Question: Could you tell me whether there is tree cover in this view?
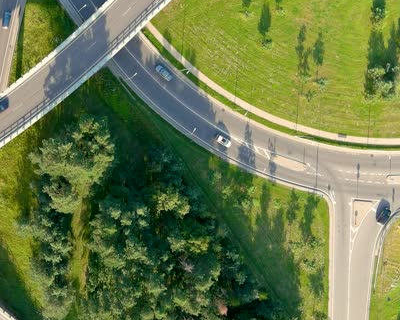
Yes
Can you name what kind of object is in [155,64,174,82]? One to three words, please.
car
